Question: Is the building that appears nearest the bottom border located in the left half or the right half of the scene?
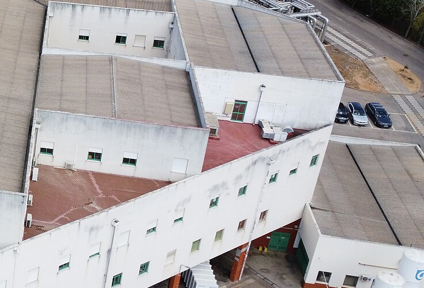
right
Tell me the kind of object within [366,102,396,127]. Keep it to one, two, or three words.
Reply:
car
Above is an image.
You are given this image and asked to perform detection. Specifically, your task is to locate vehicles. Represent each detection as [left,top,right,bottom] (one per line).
[366,102,396,127]
[348,103,372,125]
[335,102,354,123]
